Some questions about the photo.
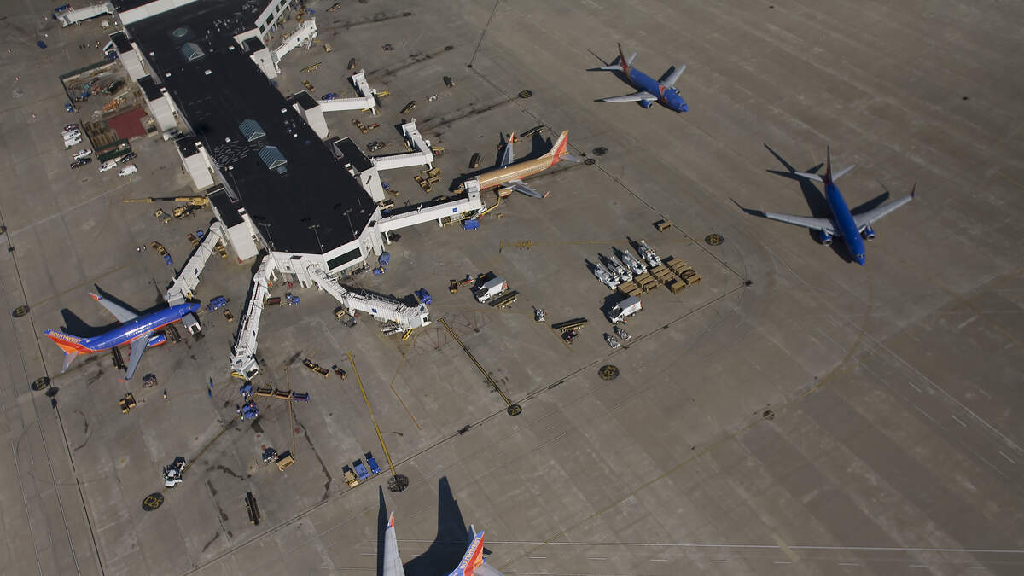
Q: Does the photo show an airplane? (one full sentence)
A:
Yes, this view includes an airplane.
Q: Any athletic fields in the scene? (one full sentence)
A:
No, the frame has no athletic field in it.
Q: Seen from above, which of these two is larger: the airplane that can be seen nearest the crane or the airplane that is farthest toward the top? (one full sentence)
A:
Of the two, the airplane that can be seen nearest the crane is larger and the airplane that is farthest toward the top is the smaller one.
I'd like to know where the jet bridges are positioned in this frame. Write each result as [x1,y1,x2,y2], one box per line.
[269,23,319,74]
[175,221,228,303]
[371,122,436,175]
[303,263,429,337]
[316,73,379,120]
[56,7,118,34]
[377,181,484,244]
[237,253,277,377]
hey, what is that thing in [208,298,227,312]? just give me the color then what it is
blue work vehicle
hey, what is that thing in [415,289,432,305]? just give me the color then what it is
blue work vehicle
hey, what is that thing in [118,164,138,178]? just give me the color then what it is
white vehicle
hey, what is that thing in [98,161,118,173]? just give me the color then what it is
white vehicle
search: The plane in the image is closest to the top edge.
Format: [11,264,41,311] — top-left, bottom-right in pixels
[601,43,688,114]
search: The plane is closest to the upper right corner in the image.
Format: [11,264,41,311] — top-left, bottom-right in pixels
[760,147,916,264]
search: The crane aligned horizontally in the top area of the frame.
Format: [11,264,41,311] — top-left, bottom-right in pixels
[124,194,212,213]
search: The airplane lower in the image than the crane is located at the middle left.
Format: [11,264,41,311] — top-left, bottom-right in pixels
[46,291,200,381]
